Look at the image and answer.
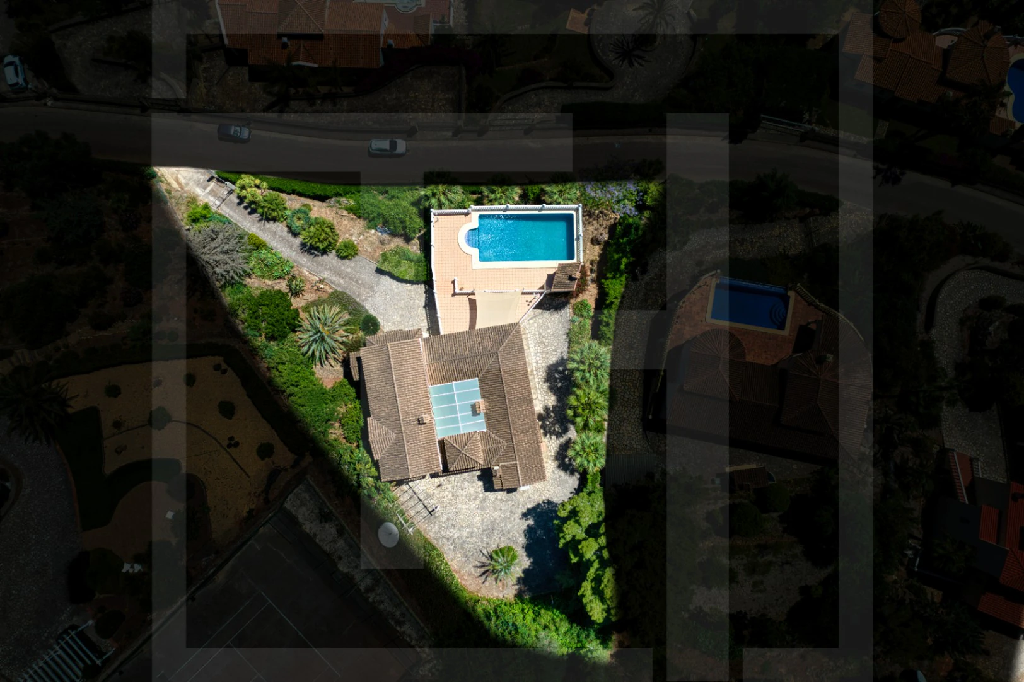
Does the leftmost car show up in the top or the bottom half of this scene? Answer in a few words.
top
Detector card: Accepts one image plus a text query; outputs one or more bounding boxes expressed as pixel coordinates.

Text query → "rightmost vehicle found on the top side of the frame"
[366,135,405,156]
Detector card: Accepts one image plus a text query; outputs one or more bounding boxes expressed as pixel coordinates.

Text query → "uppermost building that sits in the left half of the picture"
[218,0,433,84]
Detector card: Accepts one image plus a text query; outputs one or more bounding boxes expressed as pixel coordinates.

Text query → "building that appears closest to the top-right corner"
[825,0,1015,138]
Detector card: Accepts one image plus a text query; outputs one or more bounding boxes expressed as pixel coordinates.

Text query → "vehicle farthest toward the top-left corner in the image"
[0,51,25,91]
